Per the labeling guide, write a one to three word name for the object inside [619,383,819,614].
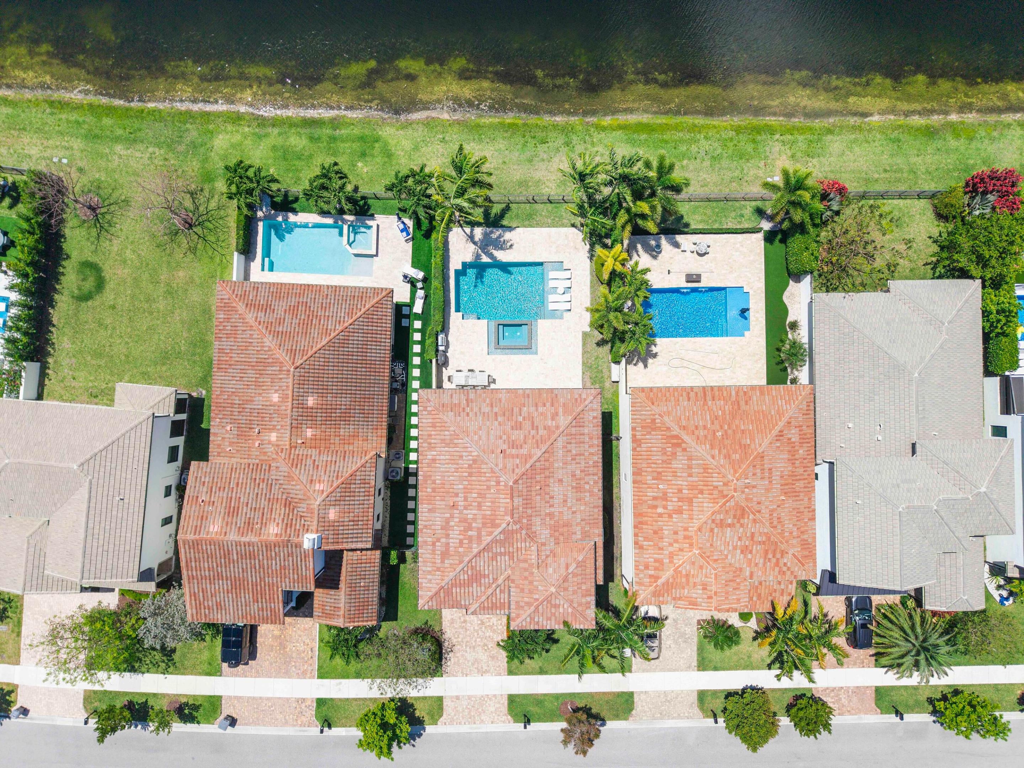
house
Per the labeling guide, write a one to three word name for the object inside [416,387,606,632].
house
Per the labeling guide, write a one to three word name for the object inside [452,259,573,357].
swimming pool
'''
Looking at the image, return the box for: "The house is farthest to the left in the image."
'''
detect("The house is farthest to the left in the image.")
[0,381,191,595]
